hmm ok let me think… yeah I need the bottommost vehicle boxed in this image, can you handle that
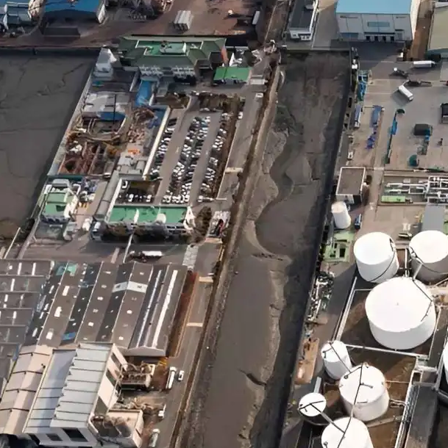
[147,428,160,447]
